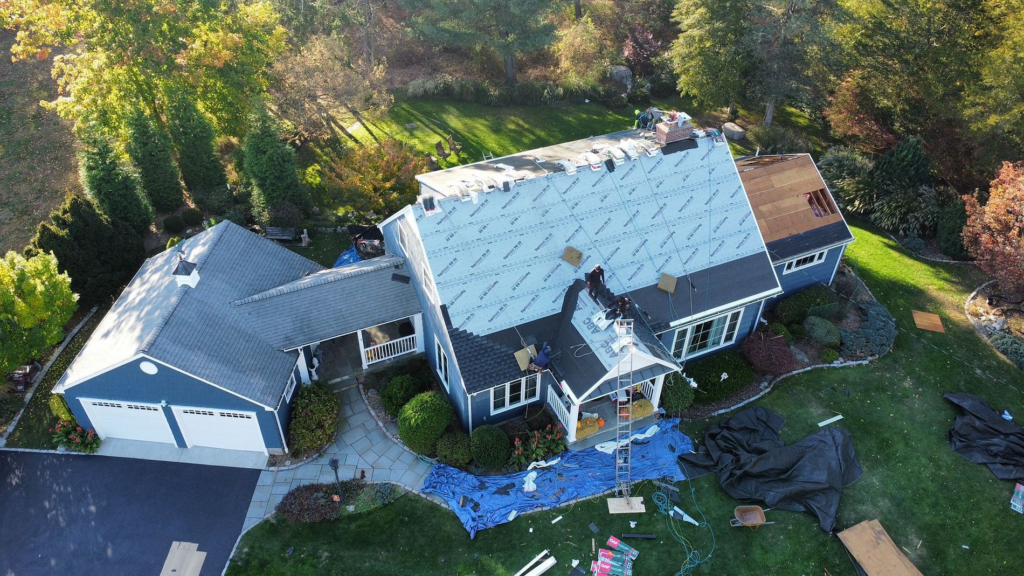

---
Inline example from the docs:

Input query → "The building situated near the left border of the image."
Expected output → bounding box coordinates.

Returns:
[49,220,331,460]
